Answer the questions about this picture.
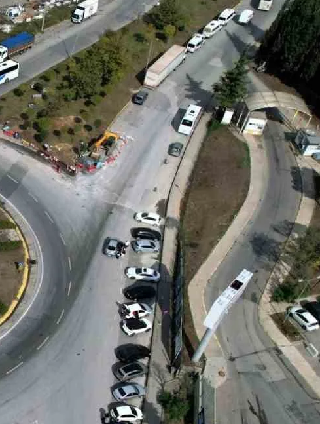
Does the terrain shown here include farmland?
No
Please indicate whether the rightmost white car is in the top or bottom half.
bottom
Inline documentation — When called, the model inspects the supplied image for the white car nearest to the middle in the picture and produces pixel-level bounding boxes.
[135,212,163,227]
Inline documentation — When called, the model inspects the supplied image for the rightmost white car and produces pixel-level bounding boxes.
[288,308,320,332]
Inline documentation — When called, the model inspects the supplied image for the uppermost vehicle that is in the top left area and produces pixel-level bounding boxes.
[73,0,100,24]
